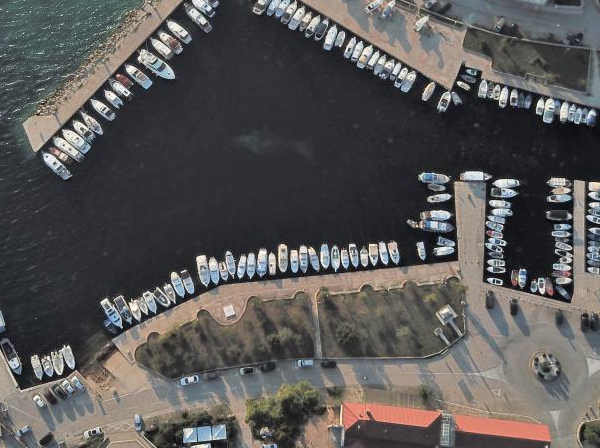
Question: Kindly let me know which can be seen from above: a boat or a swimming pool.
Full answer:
The image shows a boat.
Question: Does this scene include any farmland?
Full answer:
No, there's no farmland in this view.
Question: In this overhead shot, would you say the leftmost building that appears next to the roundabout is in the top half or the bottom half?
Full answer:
The leftmost building that appears next to the roundabout is in the bottom half of the image.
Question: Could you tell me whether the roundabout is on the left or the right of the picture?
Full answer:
You can find the roundabout on the right side of the picture.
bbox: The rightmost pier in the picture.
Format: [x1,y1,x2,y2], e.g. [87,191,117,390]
[571,180,600,313]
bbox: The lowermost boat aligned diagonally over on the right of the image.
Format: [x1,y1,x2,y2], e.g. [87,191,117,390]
[554,283,571,300]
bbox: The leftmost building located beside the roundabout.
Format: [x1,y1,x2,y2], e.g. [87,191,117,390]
[330,399,442,448]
